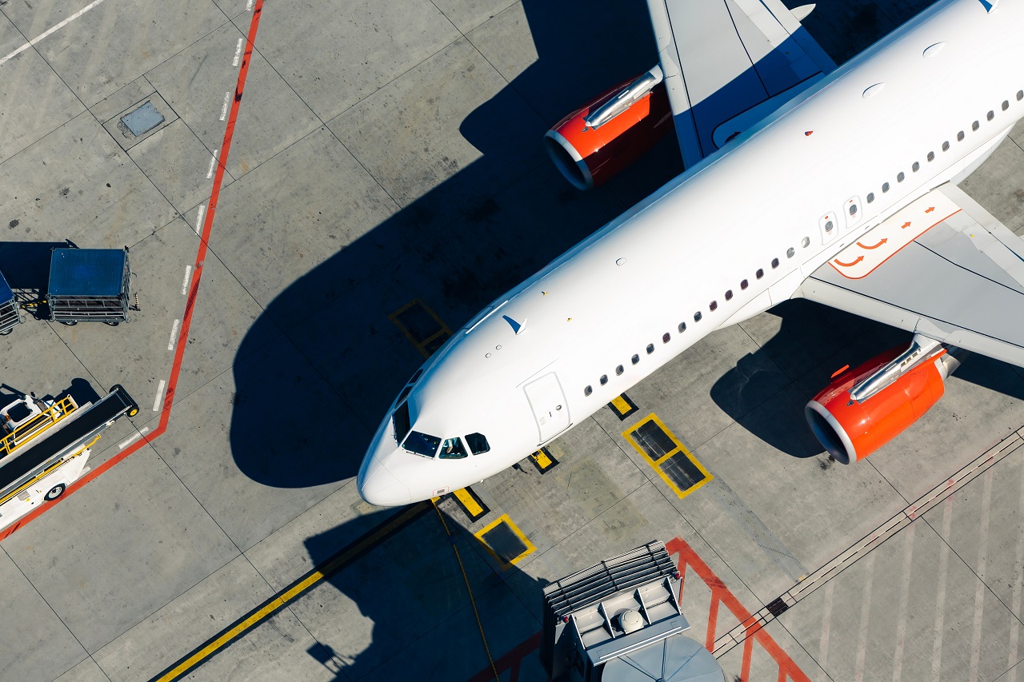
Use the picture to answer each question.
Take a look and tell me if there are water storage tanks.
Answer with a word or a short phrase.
No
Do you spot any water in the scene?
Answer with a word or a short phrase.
No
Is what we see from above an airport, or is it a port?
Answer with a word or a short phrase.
airport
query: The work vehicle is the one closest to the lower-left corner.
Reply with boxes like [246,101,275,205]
[0,379,142,535]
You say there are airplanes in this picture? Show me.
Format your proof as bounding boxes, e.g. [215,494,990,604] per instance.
[356,0,1024,506]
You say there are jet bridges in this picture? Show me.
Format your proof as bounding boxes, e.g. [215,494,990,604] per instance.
[543,537,725,682]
